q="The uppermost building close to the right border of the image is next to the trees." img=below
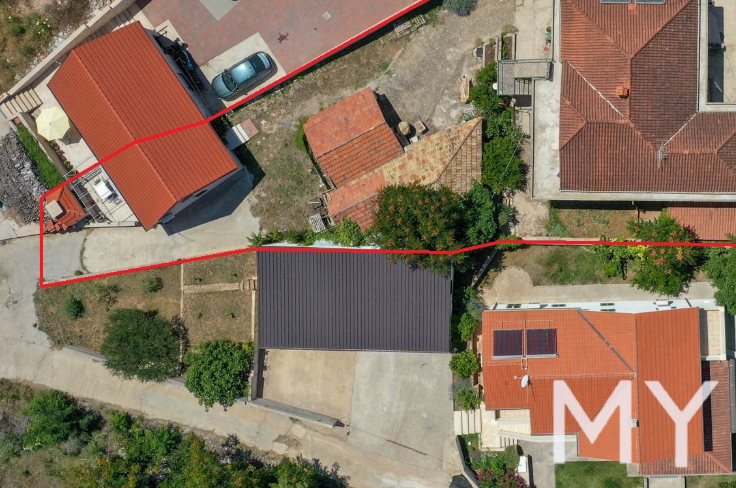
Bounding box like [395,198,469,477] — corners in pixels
[533,0,736,201]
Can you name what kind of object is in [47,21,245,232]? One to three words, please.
house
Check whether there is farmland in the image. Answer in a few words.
No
